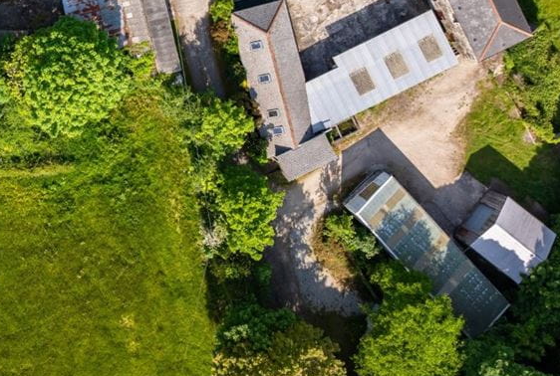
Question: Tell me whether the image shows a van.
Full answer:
No, no van can be seen from above.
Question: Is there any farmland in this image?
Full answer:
Yes, farmland can be seen from above here.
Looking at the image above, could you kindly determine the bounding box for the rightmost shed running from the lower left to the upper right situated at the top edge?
[303,9,458,132]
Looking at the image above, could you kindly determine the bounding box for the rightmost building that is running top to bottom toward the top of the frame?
[230,0,314,159]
